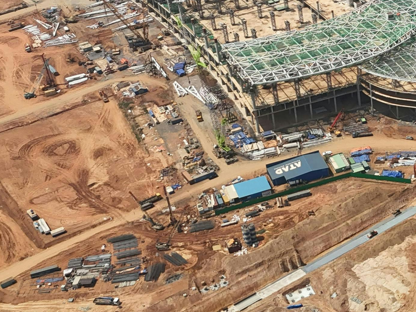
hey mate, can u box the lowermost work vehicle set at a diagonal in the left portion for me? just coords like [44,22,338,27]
[144,208,160,225]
